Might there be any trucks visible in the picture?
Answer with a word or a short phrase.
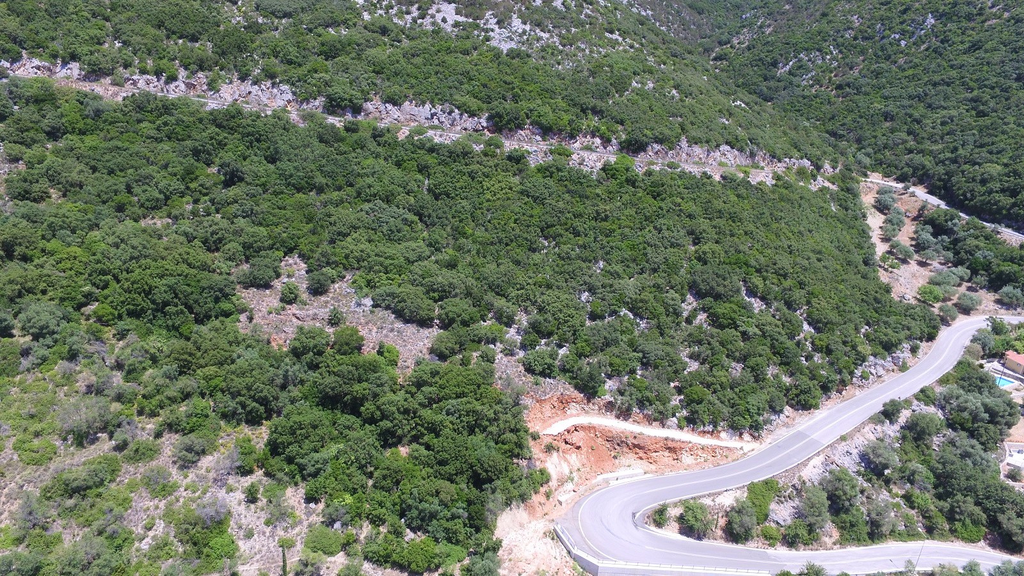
No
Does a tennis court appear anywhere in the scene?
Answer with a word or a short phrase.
No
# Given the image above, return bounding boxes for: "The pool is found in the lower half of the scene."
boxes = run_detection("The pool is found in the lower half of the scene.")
[993,376,1018,390]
